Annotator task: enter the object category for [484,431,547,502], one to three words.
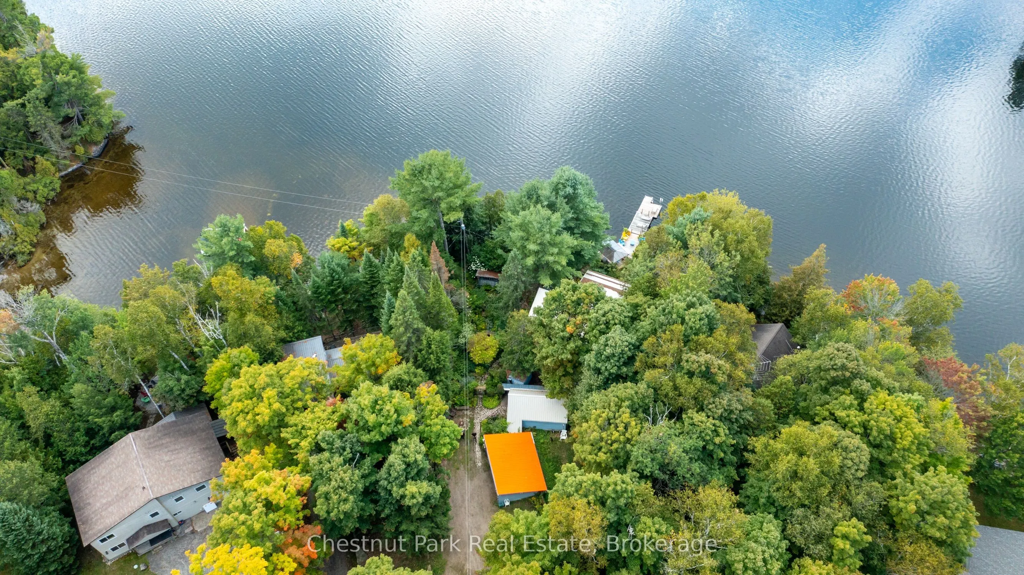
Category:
shed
